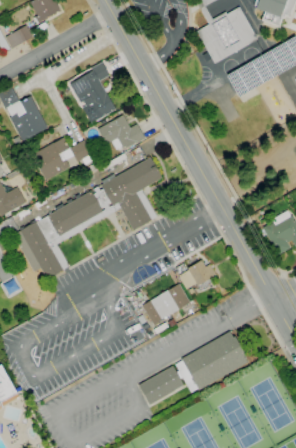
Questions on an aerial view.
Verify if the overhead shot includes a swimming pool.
Yes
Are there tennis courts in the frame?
Yes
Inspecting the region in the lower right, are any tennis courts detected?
Yes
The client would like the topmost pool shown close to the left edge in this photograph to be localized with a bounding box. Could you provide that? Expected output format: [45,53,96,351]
[2,278,24,298]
